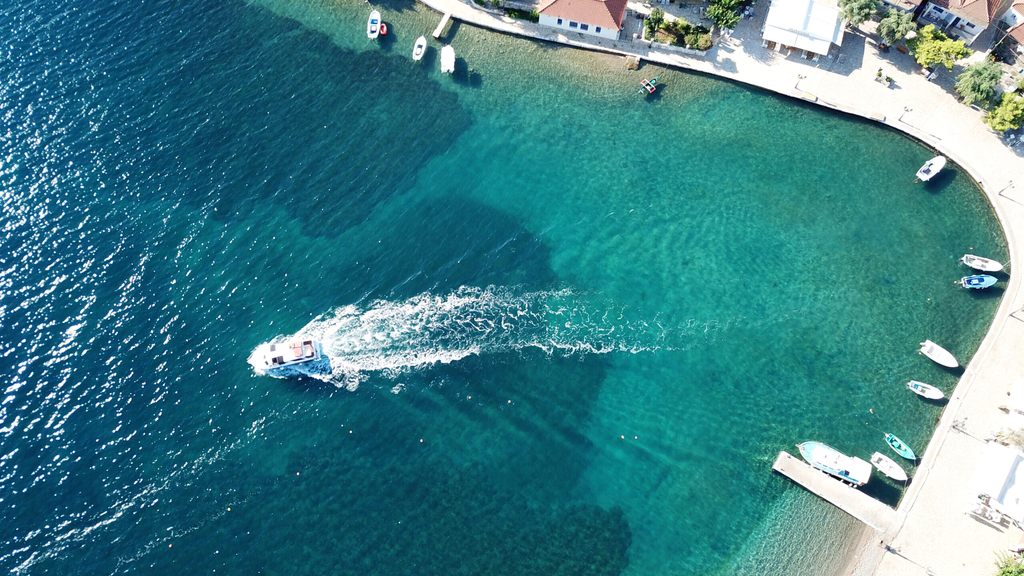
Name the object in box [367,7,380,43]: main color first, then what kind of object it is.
white boat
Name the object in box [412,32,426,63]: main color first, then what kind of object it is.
white boat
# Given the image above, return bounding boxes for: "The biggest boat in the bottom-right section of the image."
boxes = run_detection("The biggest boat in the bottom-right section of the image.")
[792,441,876,490]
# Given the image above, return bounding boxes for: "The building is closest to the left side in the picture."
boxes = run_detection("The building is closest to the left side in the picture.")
[535,0,635,40]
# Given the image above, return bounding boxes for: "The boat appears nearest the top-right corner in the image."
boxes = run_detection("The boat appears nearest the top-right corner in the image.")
[915,150,946,184]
